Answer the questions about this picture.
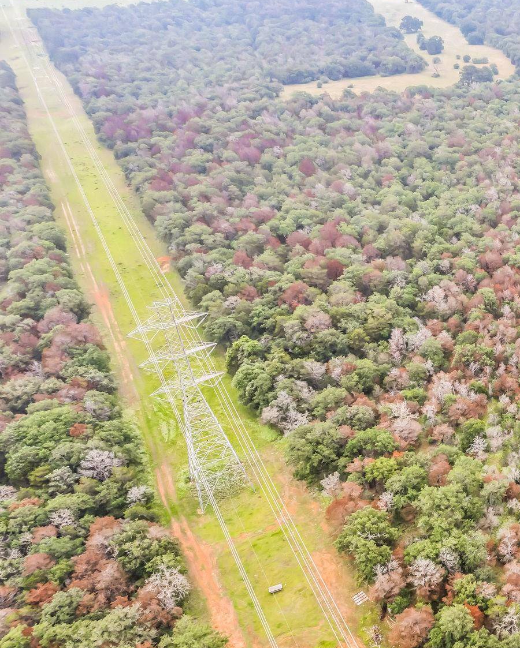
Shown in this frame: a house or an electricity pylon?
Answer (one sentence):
Looking from above, you can make out an electricity pylon.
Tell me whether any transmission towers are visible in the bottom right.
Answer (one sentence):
No, there is no transmission tower in the bottom right.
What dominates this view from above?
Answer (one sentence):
The scene is dominated by trees.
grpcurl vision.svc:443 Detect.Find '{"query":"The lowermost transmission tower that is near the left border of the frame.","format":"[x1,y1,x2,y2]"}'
[0,28,65,129]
